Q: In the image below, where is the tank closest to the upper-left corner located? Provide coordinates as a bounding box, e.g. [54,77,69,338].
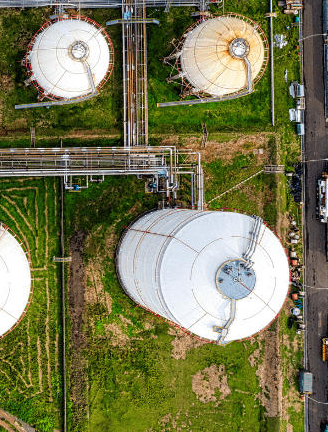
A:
[16,8,117,111]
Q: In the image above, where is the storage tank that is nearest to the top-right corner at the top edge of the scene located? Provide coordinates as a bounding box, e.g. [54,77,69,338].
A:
[159,5,273,109]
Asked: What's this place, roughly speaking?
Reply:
industrial area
